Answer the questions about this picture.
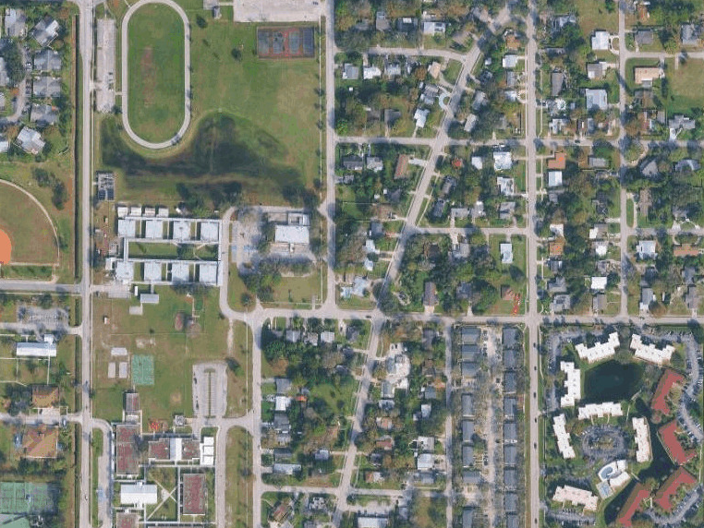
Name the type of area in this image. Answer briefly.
residential area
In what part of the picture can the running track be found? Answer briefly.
top left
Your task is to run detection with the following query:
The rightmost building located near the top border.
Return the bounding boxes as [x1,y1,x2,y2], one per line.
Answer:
[680,23,703,45]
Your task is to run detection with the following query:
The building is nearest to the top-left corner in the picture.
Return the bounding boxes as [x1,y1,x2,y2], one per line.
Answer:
[3,7,27,37]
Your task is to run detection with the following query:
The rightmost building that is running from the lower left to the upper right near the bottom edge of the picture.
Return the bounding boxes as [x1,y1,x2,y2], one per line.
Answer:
[654,469,699,512]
